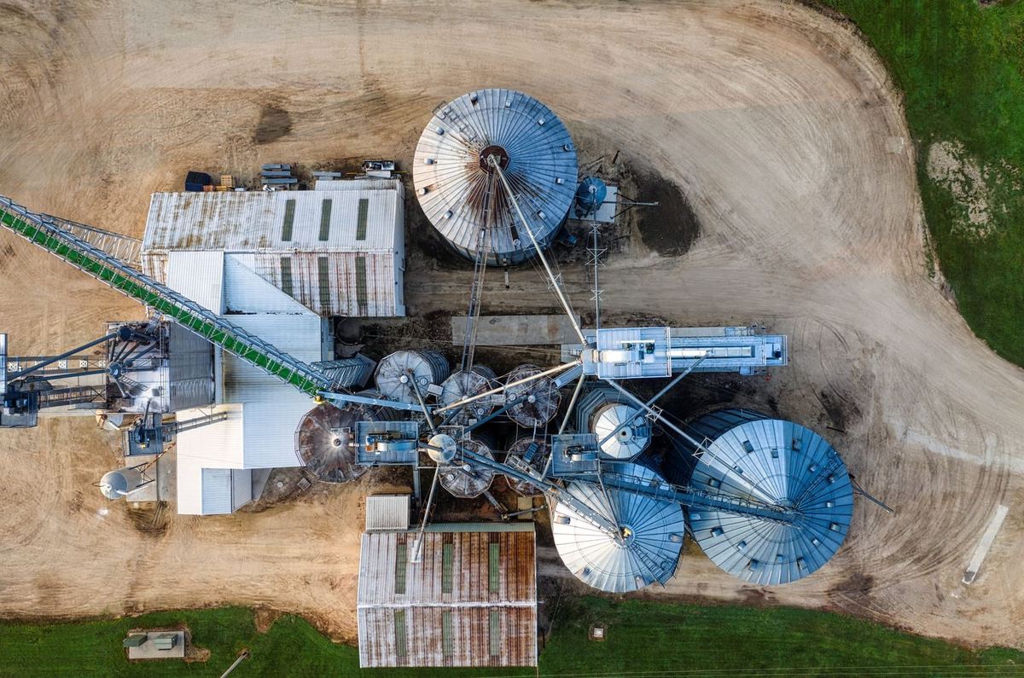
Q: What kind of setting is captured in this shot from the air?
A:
industrial area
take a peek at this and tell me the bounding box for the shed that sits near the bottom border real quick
[356,520,544,668]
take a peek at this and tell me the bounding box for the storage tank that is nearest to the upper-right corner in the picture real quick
[572,178,606,217]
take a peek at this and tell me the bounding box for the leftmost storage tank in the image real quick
[93,461,160,498]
